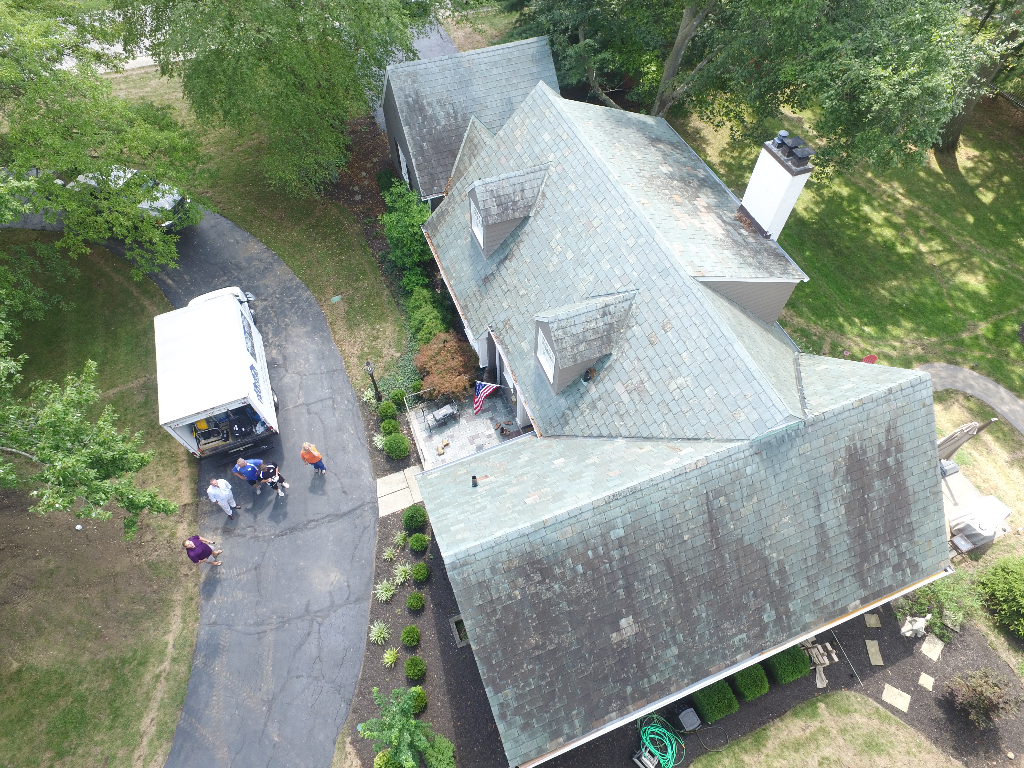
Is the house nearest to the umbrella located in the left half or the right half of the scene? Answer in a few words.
right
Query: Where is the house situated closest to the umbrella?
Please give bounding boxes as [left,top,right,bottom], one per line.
[413,79,957,768]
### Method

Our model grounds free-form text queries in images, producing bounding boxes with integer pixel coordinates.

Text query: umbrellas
[937,415,1000,462]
